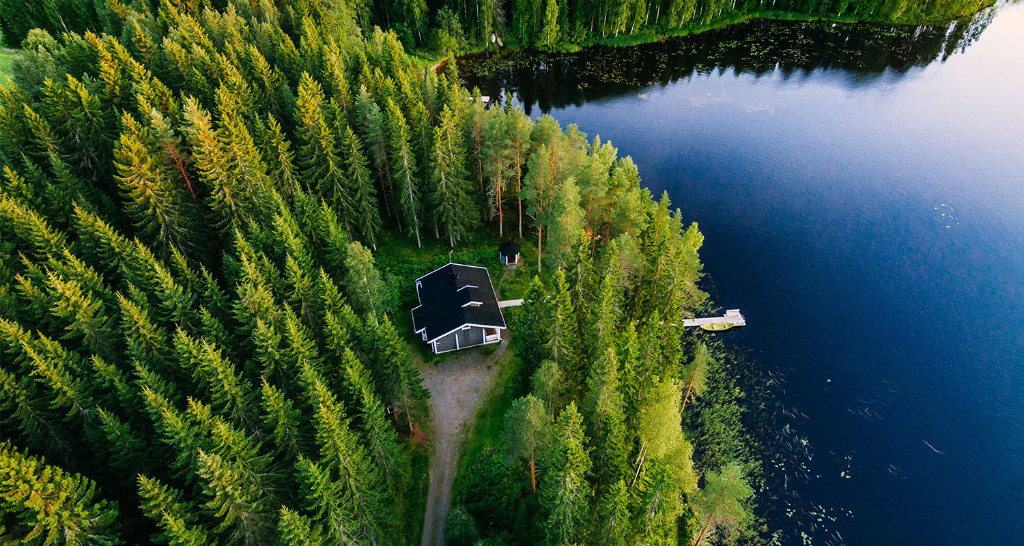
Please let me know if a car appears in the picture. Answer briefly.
No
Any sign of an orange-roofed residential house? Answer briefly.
No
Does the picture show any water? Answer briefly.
Yes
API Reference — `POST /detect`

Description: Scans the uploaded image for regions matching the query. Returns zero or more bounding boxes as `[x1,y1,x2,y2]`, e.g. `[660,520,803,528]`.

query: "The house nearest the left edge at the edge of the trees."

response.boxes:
[410,247,507,353]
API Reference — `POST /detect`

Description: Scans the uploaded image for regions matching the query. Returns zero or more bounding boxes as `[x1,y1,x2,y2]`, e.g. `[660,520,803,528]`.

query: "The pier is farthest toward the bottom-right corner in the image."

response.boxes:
[691,308,747,328]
